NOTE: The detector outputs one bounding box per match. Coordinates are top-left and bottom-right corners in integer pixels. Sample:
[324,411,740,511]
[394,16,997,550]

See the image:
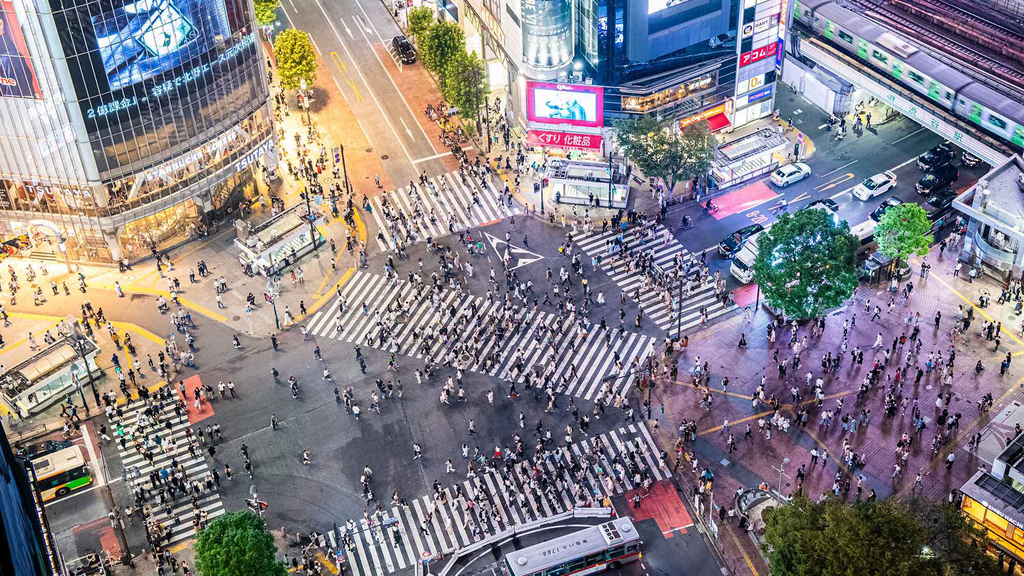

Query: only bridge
[783,0,1024,176]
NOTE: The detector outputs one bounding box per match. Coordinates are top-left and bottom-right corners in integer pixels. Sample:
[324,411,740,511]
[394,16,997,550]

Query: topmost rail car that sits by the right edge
[813,0,977,117]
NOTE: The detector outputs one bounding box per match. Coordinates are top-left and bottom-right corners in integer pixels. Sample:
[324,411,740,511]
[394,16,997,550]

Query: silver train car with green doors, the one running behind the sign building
[787,0,818,31]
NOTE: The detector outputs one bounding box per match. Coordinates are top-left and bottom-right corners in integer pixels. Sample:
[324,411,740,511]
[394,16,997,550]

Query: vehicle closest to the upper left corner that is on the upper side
[390,25,416,58]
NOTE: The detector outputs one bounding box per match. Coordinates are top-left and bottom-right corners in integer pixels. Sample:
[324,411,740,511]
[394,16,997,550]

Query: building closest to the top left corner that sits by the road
[0,0,296,264]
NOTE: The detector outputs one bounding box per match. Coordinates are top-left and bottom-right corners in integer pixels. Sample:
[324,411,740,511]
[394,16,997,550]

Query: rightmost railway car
[954,78,1024,162]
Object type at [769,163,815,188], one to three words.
car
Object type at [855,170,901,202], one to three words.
car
